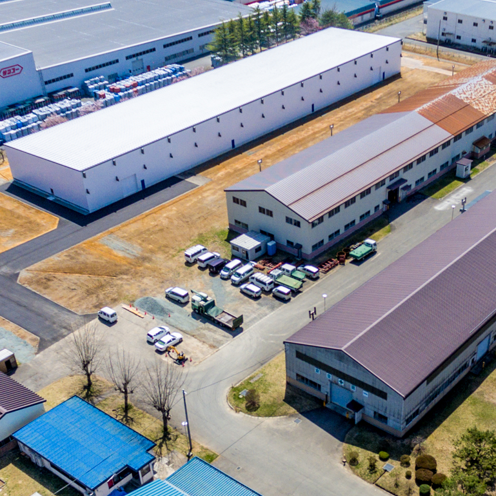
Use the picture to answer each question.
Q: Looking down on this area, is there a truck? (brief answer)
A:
Yes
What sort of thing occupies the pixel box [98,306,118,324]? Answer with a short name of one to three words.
car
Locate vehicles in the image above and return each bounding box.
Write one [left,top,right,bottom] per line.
[196,253,220,269]
[231,263,255,283]
[164,286,189,303]
[172,340,184,364]
[243,255,261,266]
[248,272,274,291]
[268,267,302,289]
[154,334,183,353]
[352,237,375,256]
[183,244,208,263]
[219,259,243,278]
[178,285,246,327]
[145,328,170,345]
[209,259,227,274]
[281,259,305,278]
[272,284,292,300]
[239,284,263,298]
[299,266,322,280]
[98,306,118,324]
